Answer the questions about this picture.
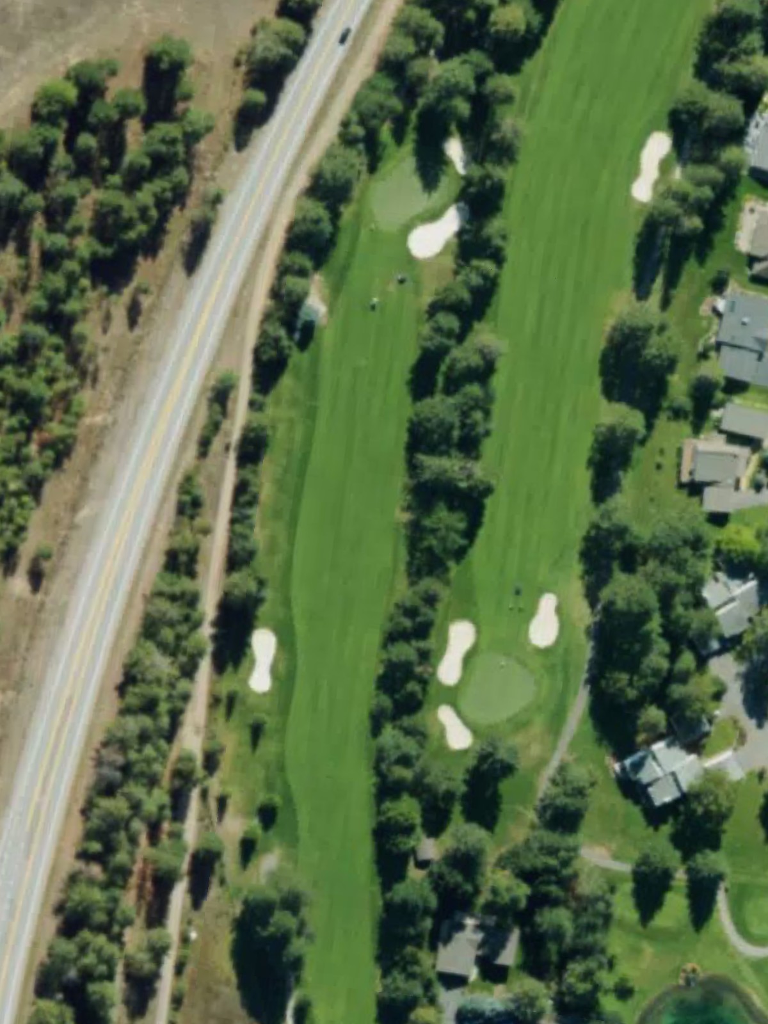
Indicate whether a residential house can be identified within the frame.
Yes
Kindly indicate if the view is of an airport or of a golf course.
golf course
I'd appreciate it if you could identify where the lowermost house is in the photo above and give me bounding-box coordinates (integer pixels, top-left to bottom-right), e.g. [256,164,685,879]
[437,919,522,978]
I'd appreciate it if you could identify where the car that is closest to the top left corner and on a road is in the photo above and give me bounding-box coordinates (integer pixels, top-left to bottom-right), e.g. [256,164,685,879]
[338,27,352,44]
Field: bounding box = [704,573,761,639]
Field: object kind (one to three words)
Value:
house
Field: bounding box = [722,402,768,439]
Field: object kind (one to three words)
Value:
house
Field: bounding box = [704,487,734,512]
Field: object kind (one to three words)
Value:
building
